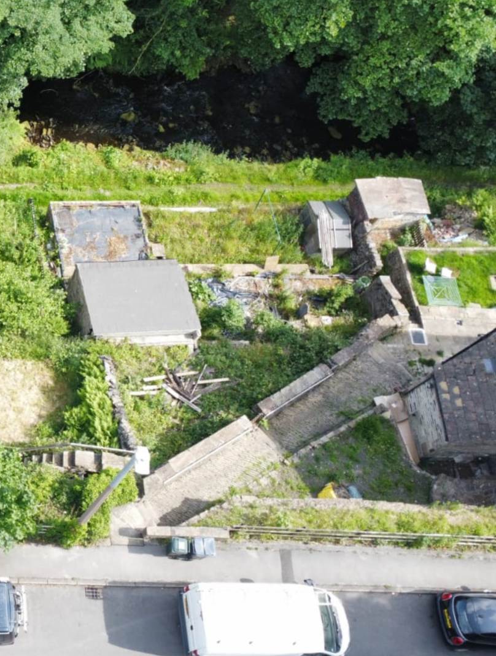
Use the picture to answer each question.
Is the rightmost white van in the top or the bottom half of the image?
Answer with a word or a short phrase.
bottom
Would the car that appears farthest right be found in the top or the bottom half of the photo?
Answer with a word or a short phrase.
bottom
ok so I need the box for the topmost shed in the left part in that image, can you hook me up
[46,199,151,291]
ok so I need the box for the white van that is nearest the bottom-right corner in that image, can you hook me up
[181,581,351,656]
